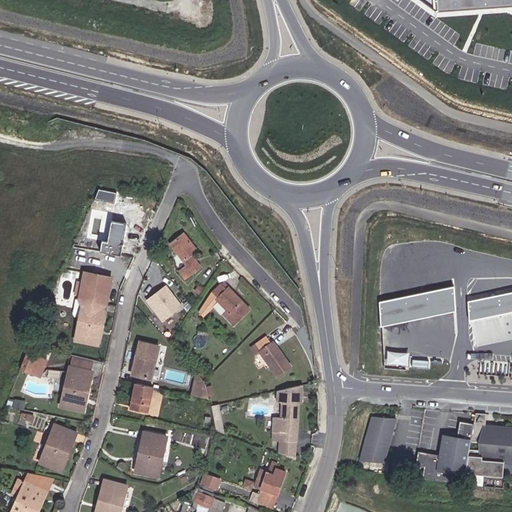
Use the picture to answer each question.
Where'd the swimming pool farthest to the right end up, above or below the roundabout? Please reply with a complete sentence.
In the image, the swimming pool farthest to the right sits below the roundabout.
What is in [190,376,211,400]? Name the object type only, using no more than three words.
shed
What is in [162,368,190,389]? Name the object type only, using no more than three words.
swimming pool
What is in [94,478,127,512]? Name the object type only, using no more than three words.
house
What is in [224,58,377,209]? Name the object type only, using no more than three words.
roundabout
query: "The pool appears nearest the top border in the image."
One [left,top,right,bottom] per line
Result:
[55,270,80,308]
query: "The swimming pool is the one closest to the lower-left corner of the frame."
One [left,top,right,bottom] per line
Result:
[22,372,59,398]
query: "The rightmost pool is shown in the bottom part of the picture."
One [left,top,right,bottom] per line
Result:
[246,393,276,418]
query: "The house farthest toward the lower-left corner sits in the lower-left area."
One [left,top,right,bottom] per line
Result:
[8,473,54,512]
